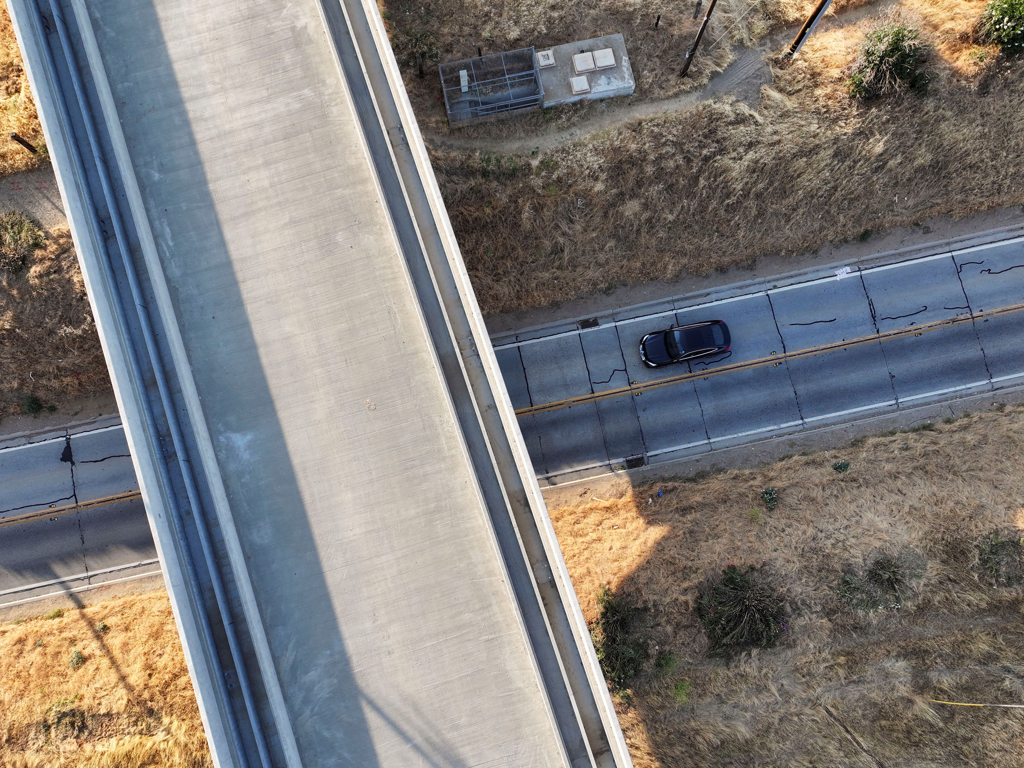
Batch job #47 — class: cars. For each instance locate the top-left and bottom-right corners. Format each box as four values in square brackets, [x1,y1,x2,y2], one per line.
[637,320,735,369]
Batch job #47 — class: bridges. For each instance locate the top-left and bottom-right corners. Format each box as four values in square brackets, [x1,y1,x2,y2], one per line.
[5,0,634,768]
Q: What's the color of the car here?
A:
black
